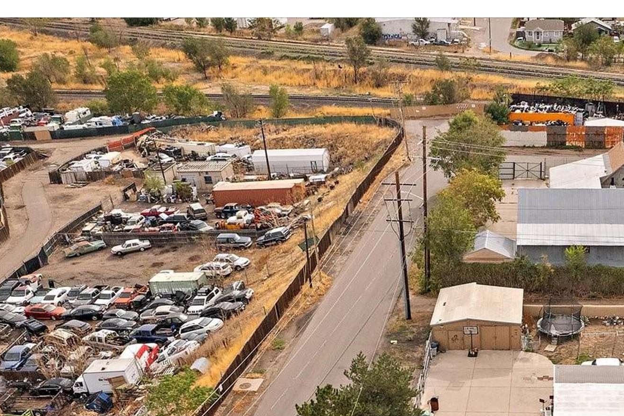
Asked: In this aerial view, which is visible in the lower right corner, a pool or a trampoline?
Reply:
trampoline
